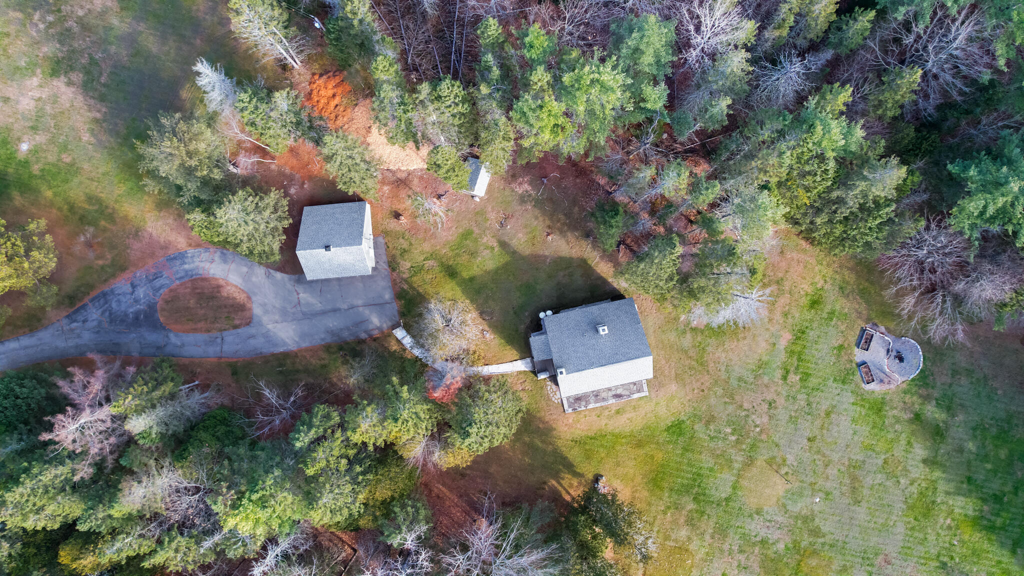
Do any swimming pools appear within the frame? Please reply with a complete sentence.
No, the frame has no swimming pool in it.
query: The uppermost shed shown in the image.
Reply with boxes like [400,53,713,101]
[460,160,491,193]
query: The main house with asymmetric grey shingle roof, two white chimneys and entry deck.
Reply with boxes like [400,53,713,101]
[529,297,654,398]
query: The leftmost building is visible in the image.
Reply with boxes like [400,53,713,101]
[296,201,376,281]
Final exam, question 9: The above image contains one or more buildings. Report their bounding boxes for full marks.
[529,297,654,398]
[460,160,491,193]
[296,201,376,281]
